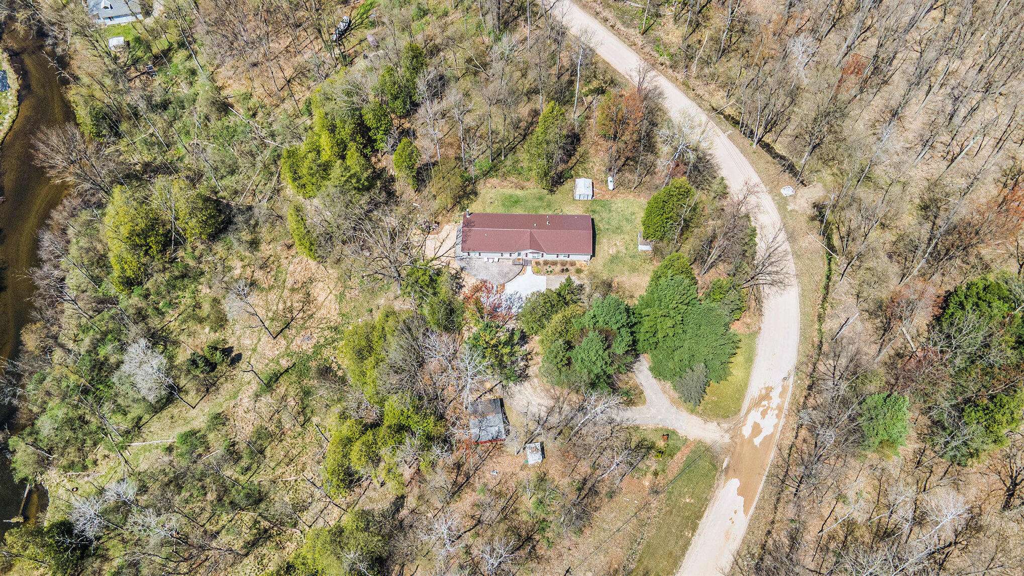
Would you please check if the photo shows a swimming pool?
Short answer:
No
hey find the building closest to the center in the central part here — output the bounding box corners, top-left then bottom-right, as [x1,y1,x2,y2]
[459,209,592,263]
